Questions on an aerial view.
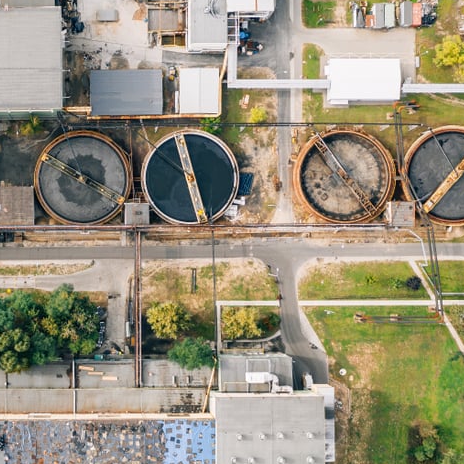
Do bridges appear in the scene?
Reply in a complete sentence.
Yes, the frame does contain a bridge.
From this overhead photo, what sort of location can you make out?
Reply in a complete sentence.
The area seen from above is an industrial area.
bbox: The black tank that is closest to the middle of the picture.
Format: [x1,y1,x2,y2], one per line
[138,129,239,226]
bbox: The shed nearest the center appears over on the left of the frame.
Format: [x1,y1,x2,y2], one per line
[123,203,148,223]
